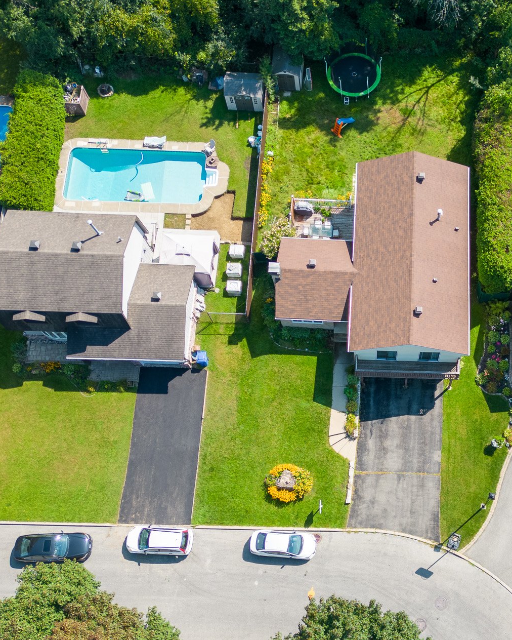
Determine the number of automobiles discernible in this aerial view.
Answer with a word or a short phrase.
3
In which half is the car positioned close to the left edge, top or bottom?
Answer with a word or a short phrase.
bottom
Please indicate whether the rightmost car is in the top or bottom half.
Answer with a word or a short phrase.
bottom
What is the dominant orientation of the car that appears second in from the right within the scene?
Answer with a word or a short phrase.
horizontally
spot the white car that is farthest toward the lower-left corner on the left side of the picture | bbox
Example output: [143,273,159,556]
[124,522,195,558]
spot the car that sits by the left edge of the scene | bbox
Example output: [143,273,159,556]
[12,529,94,564]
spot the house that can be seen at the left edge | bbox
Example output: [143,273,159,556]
[0,210,203,369]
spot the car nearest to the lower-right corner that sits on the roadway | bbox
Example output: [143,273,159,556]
[248,528,319,562]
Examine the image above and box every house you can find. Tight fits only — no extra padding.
[266,151,472,393]
[0,210,203,369]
